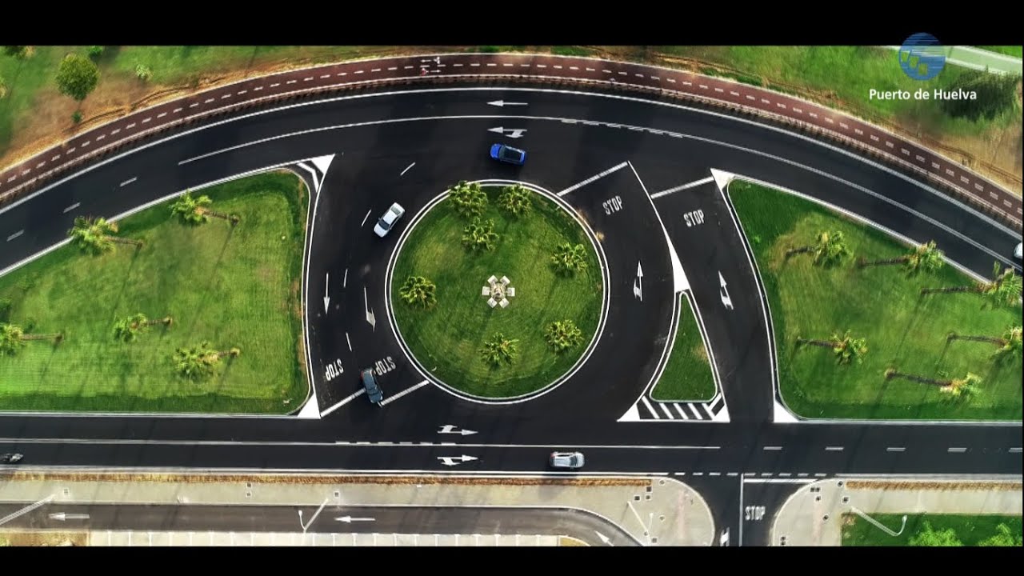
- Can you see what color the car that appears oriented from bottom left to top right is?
white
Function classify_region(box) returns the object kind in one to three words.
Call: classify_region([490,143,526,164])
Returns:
car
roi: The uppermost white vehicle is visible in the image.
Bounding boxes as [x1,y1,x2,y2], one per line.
[374,203,404,236]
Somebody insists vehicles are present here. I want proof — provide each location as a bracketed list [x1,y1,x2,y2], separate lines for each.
[360,368,383,402]
[374,203,404,236]
[490,143,526,164]
[1015,244,1024,261]
[549,450,583,469]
